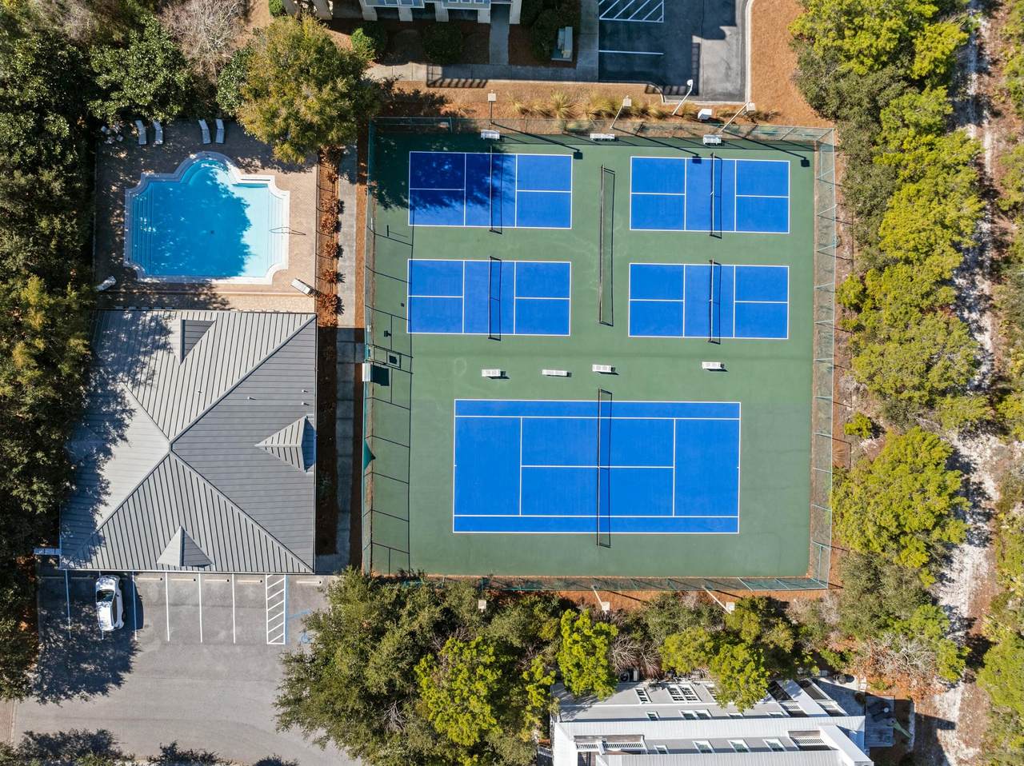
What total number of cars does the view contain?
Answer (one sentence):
Just 1 car appears in this view.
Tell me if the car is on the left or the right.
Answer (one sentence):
The car appears in the left half of the scene.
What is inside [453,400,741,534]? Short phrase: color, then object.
blue tennis court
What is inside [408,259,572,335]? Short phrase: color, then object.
blue sports court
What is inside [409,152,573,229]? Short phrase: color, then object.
blue sports court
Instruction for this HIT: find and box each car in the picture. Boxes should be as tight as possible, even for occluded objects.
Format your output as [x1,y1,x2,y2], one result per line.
[92,576,124,631]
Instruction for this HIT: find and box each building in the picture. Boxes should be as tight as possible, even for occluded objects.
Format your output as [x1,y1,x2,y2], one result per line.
[533,683,874,766]
[39,309,318,575]
[272,0,522,22]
